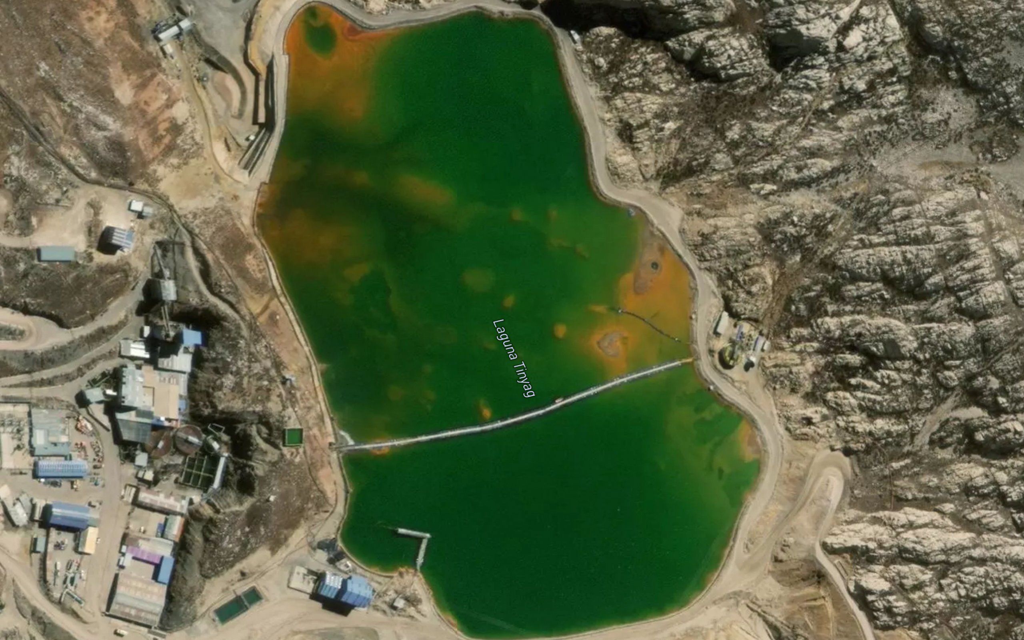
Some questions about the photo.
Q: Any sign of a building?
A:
Yes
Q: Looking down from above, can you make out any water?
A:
Yes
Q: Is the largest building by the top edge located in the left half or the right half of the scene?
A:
left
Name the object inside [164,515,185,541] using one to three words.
building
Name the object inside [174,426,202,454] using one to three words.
storage tank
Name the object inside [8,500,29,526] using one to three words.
shed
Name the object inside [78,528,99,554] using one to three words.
house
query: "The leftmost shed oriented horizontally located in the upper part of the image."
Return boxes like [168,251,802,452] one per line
[41,246,75,261]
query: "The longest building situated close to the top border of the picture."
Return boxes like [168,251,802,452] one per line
[159,19,193,44]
